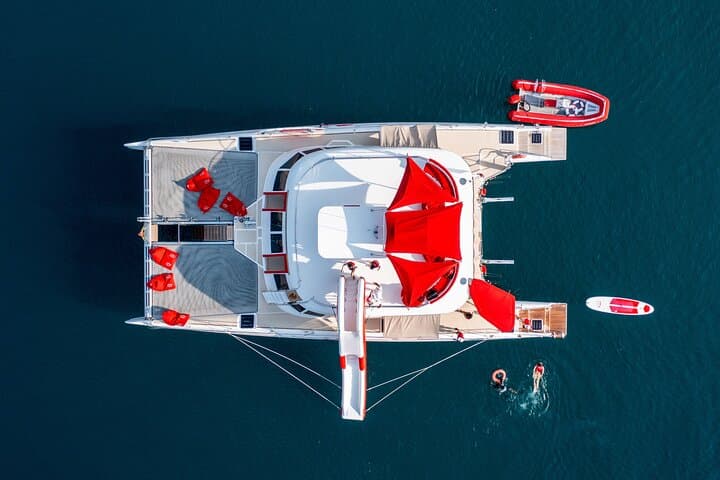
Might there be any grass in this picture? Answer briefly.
No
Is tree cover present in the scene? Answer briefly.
No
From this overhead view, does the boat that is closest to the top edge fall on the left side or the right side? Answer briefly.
right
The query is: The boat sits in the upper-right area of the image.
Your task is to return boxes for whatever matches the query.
[507,79,610,127]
